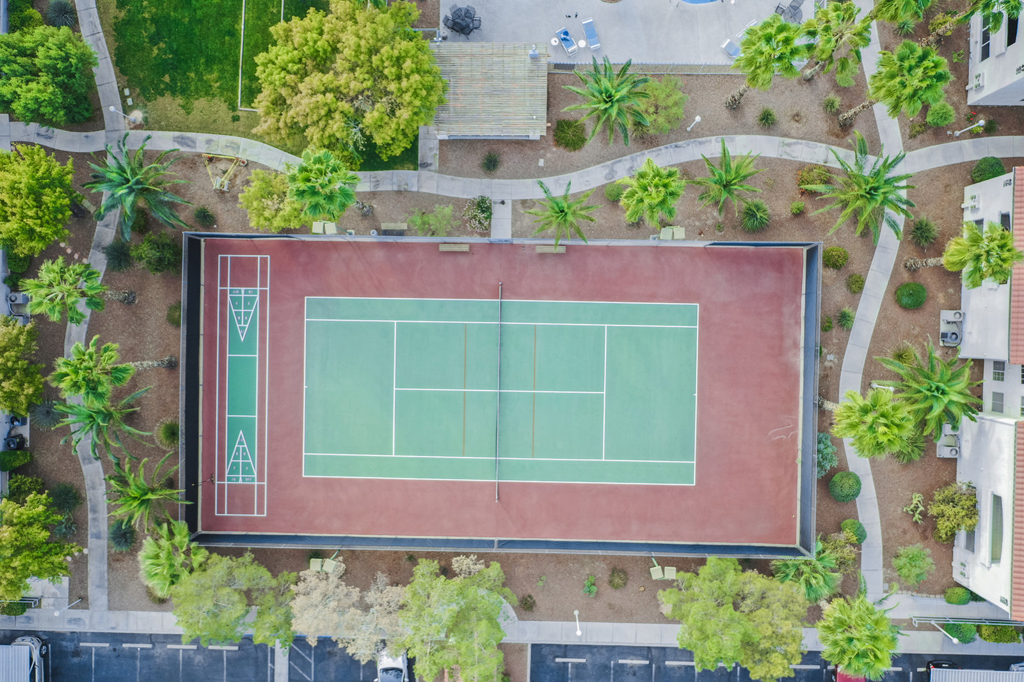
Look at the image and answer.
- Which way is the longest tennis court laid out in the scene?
from side to side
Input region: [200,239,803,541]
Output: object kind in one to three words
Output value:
tennis court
